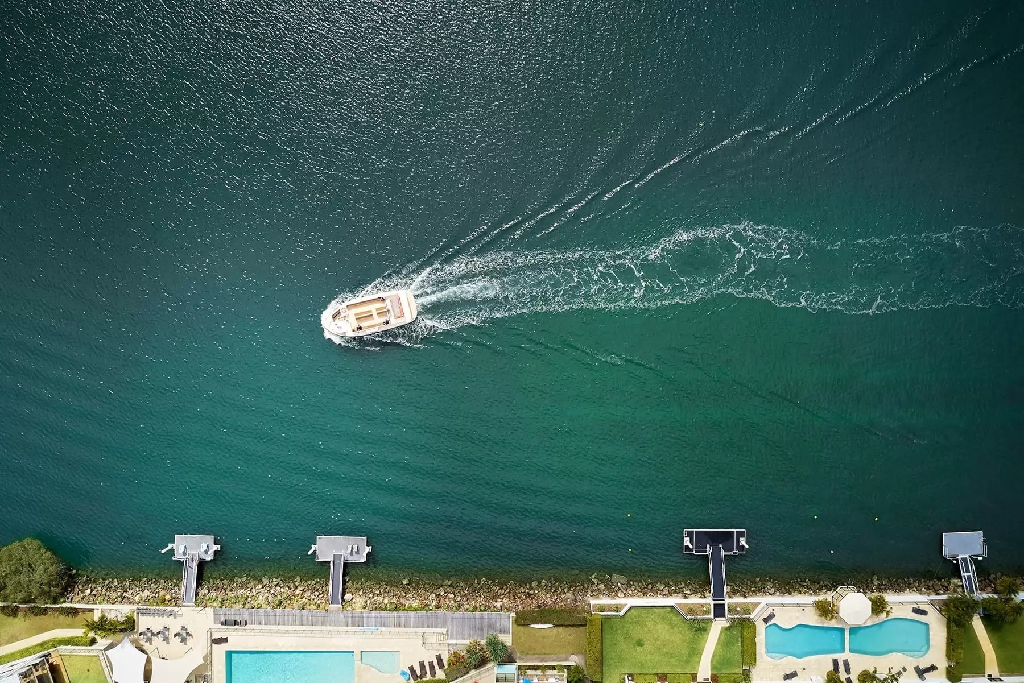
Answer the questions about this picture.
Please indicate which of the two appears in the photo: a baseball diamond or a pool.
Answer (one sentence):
There is a pool in the scene.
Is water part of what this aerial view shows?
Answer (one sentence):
Yes, there is water in the image.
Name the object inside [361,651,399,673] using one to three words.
swimming pool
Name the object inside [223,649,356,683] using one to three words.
swimming pool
